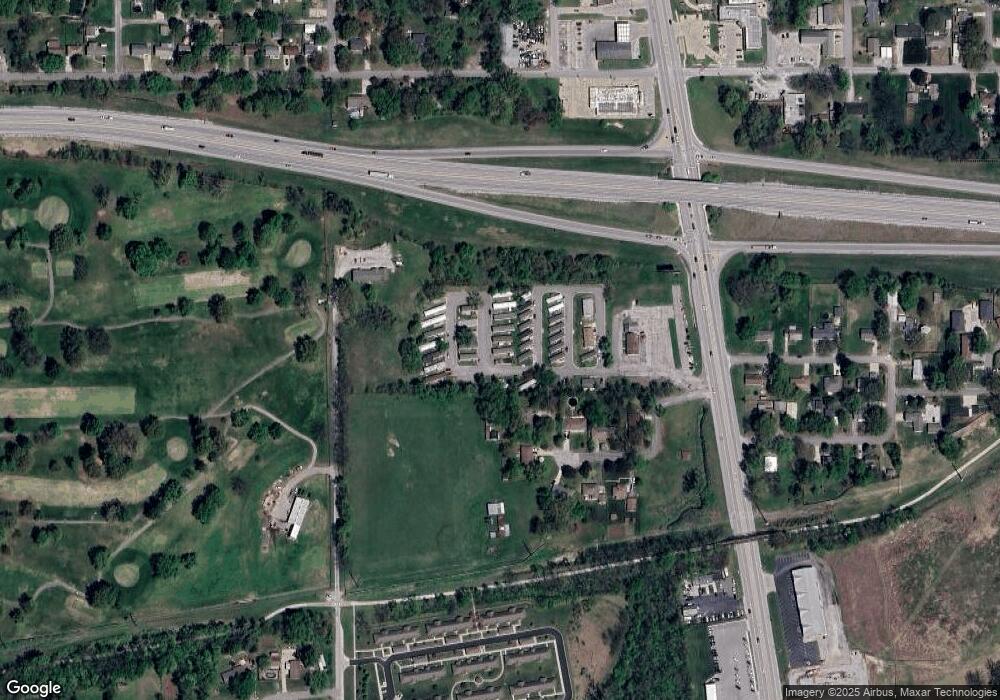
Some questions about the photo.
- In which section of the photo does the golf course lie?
left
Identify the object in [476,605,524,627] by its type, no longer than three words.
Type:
building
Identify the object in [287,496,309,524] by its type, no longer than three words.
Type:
shed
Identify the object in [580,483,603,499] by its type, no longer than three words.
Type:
house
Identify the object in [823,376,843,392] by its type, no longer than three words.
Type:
house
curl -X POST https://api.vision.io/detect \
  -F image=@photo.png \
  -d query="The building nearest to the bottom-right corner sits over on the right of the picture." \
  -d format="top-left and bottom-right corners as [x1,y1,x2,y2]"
[793,568,825,641]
